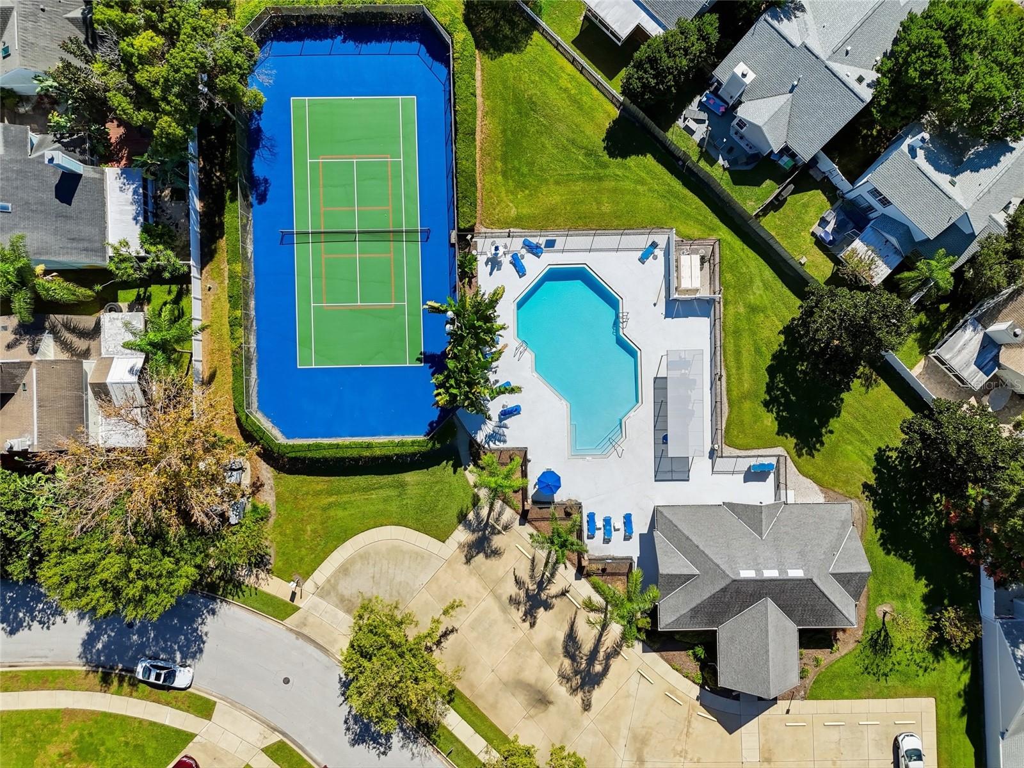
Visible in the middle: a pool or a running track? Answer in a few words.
pool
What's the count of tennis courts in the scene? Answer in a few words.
one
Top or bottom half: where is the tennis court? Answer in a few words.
top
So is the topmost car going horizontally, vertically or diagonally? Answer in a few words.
horizontally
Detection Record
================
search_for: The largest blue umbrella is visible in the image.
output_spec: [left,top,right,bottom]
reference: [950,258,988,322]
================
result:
[537,471,560,494]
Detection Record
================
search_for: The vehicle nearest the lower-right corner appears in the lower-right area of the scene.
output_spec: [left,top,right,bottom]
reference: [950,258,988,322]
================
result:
[893,731,924,768]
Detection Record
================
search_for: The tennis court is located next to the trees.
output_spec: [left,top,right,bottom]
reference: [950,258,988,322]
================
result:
[246,17,464,443]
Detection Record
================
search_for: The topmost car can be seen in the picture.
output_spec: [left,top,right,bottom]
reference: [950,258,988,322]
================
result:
[137,657,195,689]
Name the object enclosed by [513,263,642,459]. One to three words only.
swimming pool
